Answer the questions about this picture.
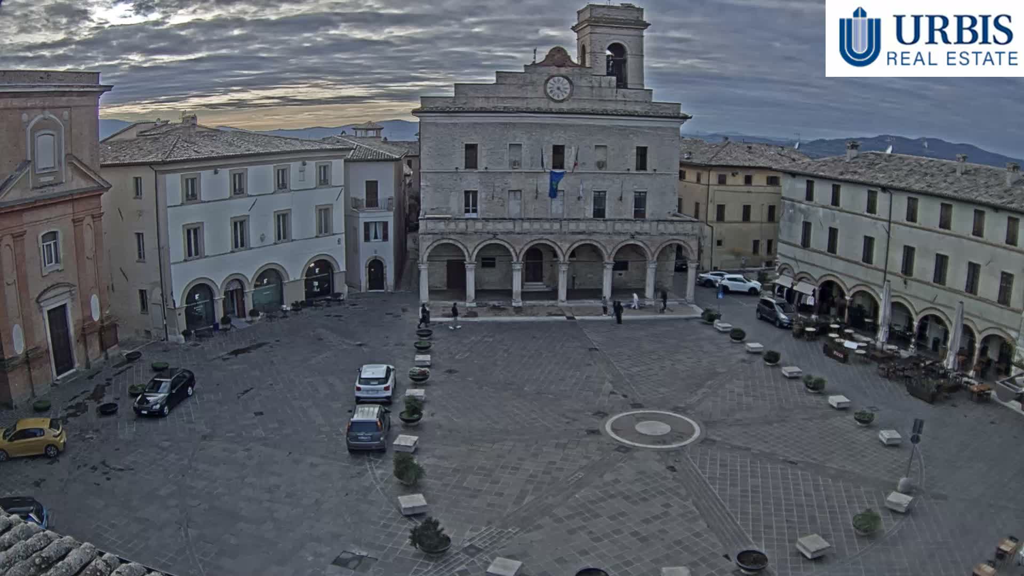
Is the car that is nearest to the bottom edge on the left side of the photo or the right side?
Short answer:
left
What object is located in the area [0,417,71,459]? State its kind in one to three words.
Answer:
car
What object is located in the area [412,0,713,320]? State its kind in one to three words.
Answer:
building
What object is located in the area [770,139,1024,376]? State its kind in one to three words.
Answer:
building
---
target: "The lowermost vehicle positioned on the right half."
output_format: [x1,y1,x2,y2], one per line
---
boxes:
[755,294,805,327]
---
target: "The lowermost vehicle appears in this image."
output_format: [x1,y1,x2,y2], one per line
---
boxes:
[0,485,44,527]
